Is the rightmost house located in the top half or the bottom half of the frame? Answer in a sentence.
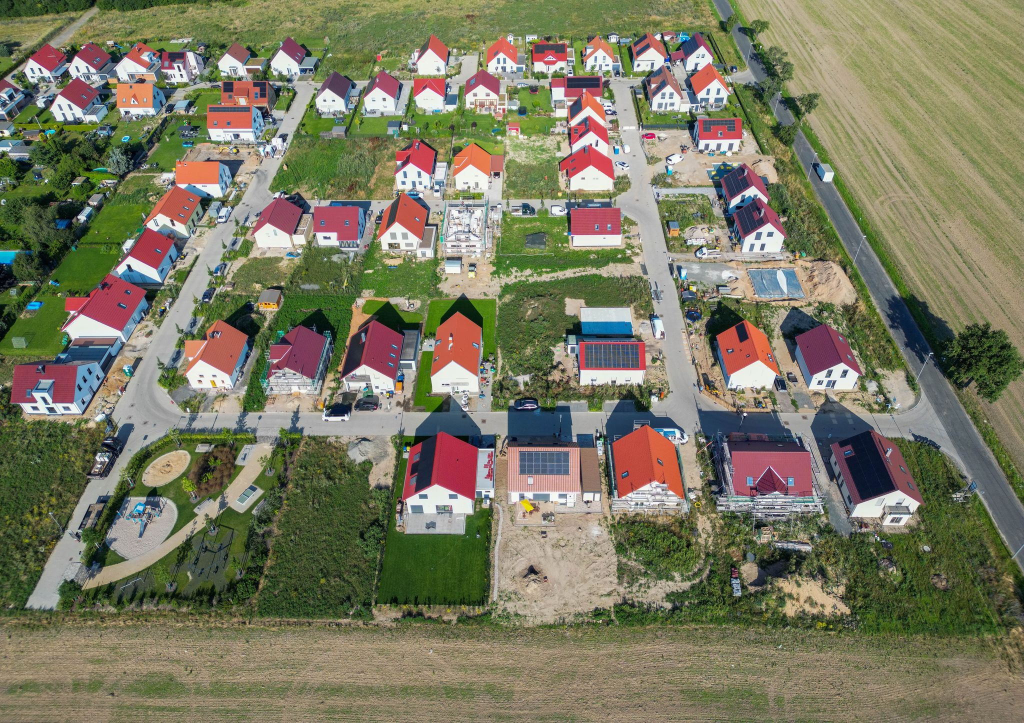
Seen from above, the rightmost house lies in the bottom half of the view.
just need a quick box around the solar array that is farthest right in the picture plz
[839,432,891,499]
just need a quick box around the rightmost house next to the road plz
[830,431,922,525]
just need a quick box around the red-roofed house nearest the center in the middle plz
[428,312,483,392]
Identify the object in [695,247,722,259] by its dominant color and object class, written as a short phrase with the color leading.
white vehicle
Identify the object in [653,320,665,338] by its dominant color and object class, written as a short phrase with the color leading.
white vehicle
